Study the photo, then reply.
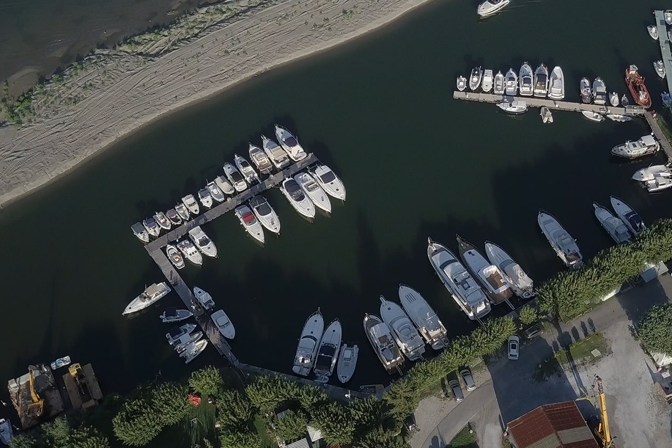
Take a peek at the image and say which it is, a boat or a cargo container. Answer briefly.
boat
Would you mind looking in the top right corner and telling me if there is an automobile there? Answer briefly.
No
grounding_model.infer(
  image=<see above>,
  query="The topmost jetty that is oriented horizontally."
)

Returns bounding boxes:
[454,91,626,117]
